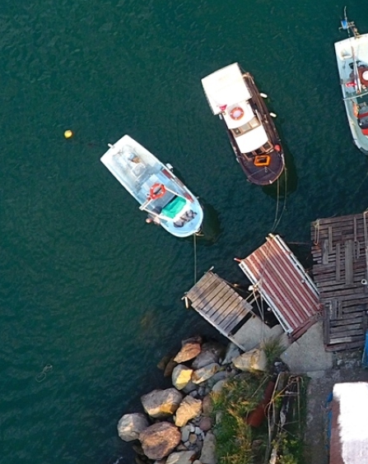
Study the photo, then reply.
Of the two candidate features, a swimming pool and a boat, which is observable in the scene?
boat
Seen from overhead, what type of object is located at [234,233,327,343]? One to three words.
pier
